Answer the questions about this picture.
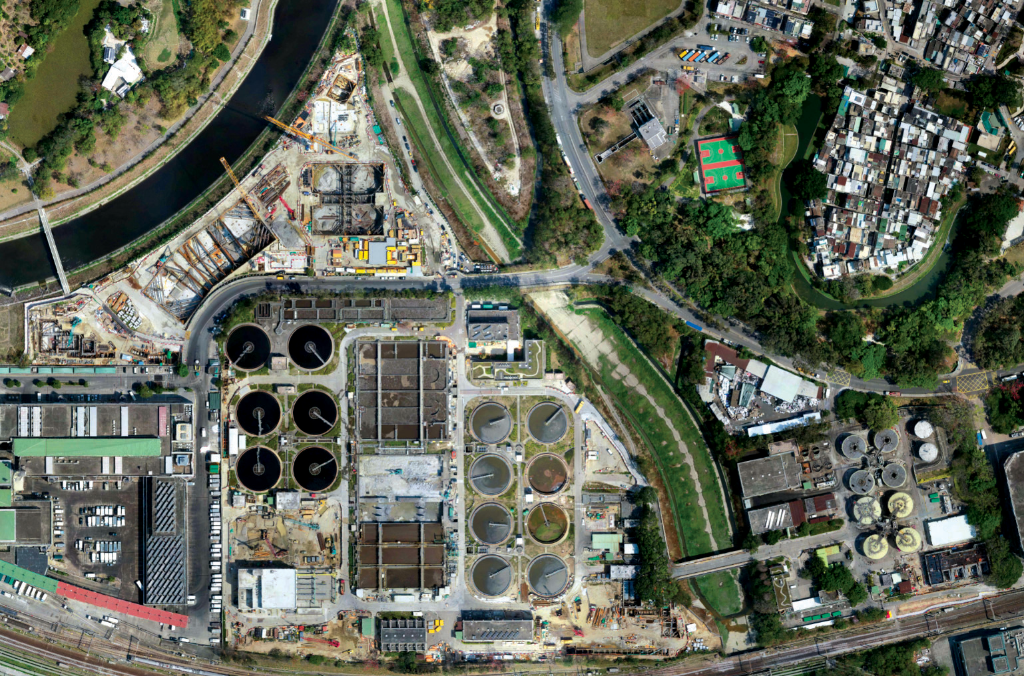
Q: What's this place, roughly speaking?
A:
residential area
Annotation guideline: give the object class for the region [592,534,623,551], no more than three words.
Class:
shed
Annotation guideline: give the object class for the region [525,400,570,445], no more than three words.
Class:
storage tank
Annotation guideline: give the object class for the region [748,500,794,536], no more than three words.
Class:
house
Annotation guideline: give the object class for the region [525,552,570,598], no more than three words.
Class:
storage tank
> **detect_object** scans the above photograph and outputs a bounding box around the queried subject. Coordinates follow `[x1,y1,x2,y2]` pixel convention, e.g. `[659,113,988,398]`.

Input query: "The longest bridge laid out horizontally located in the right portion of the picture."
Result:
[673,548,752,580]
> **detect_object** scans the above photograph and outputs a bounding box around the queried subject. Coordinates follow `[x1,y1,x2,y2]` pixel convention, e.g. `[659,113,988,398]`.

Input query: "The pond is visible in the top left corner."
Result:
[8,0,102,147]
